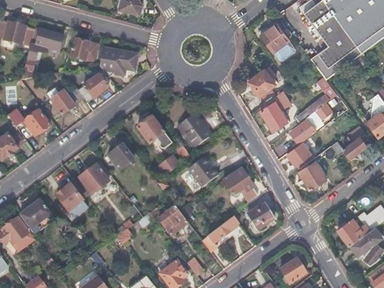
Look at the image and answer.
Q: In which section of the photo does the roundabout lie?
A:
top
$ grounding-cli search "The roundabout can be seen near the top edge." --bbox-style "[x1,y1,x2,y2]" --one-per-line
[158,11,235,88]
